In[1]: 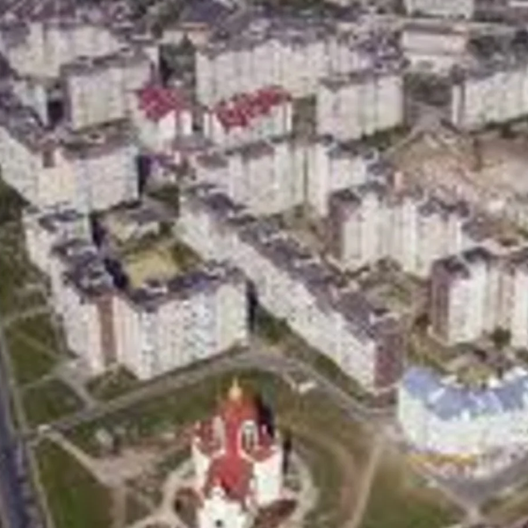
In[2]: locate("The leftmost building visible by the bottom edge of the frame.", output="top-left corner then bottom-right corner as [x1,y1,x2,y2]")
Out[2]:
[185,372,287,528]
